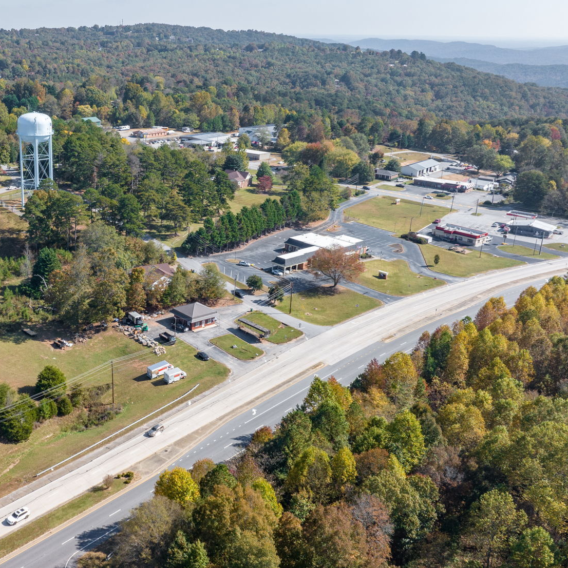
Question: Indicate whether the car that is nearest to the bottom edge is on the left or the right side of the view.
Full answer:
The car that is nearest to the bottom edge is on the left side of the image.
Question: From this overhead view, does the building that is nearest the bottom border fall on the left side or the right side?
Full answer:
The building that is nearest the bottom border appears in the left half of the scene.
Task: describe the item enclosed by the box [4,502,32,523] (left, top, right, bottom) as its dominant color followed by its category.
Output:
white car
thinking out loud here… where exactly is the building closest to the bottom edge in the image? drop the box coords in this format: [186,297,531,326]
[171,302,219,331]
